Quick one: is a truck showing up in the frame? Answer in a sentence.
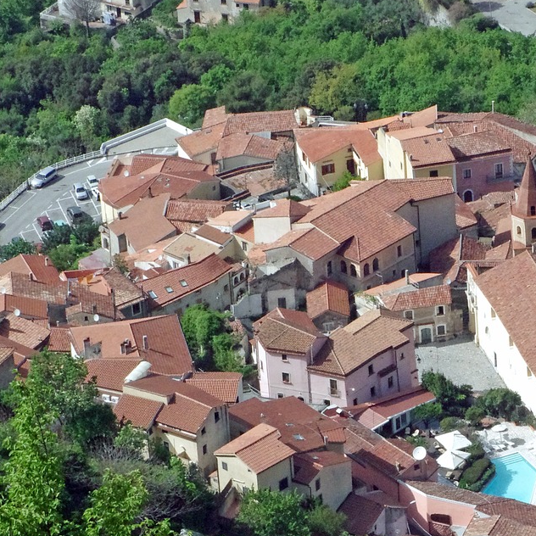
No, there's no truck here.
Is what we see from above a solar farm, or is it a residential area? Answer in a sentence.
What you see here is a residential area.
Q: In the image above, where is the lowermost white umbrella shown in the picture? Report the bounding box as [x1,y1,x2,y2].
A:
[433,450,472,480]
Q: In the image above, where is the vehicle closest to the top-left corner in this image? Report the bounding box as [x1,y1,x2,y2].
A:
[28,164,61,187]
